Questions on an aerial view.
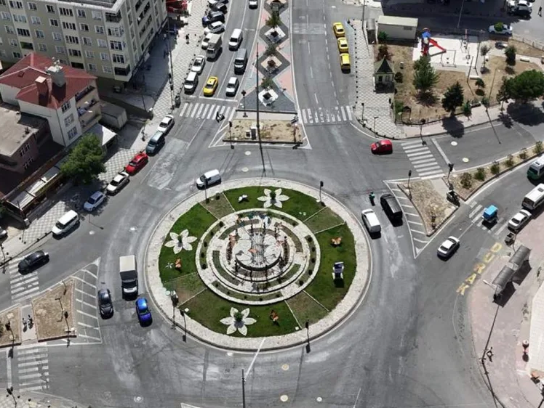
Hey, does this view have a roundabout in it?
Yes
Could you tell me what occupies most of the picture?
paved ground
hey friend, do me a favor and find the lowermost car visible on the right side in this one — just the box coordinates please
[435,236,460,261]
